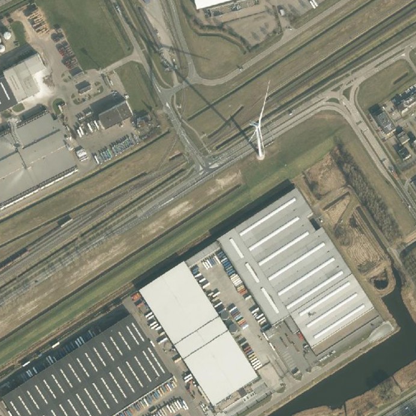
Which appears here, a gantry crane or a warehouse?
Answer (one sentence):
Looking from above, you can make out a warehouse.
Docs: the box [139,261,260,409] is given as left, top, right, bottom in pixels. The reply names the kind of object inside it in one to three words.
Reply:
warehouse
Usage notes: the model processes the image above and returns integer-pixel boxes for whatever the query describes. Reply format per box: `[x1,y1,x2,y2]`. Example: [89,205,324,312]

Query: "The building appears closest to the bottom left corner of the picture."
[1,314,173,416]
